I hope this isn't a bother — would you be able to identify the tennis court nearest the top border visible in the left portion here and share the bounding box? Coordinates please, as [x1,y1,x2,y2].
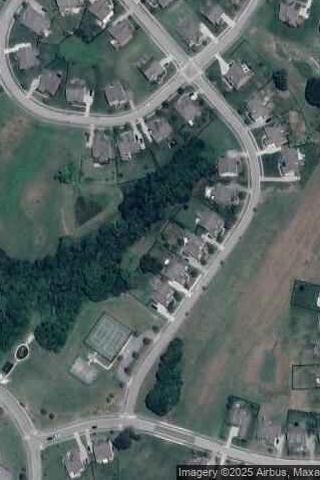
[83,312,133,361]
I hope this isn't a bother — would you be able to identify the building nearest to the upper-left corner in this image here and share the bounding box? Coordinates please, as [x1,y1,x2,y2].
[22,8,51,36]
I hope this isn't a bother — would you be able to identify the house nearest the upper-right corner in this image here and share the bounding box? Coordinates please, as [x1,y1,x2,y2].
[279,2,307,27]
